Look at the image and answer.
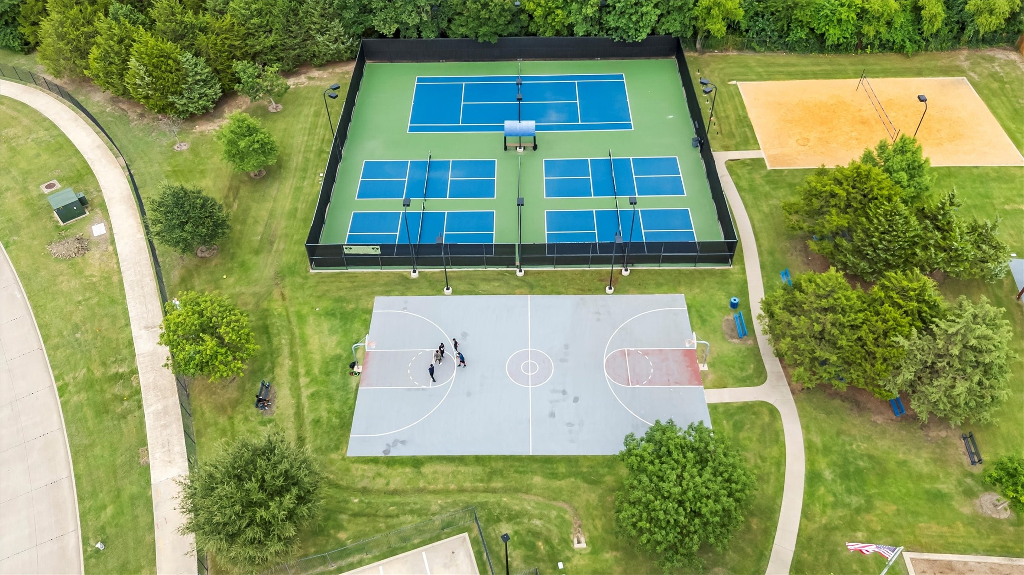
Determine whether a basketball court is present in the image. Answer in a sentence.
Yes, the photo shows a basketball court.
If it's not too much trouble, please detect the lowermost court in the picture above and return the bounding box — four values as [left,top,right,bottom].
[347,293,714,456]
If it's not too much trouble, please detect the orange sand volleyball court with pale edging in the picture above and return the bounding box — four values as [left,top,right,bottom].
[737,76,1024,169]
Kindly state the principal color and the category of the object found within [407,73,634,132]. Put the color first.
blue tennis court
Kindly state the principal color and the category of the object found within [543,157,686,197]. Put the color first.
blue sports court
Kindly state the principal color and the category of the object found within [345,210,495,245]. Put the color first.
blue sports court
